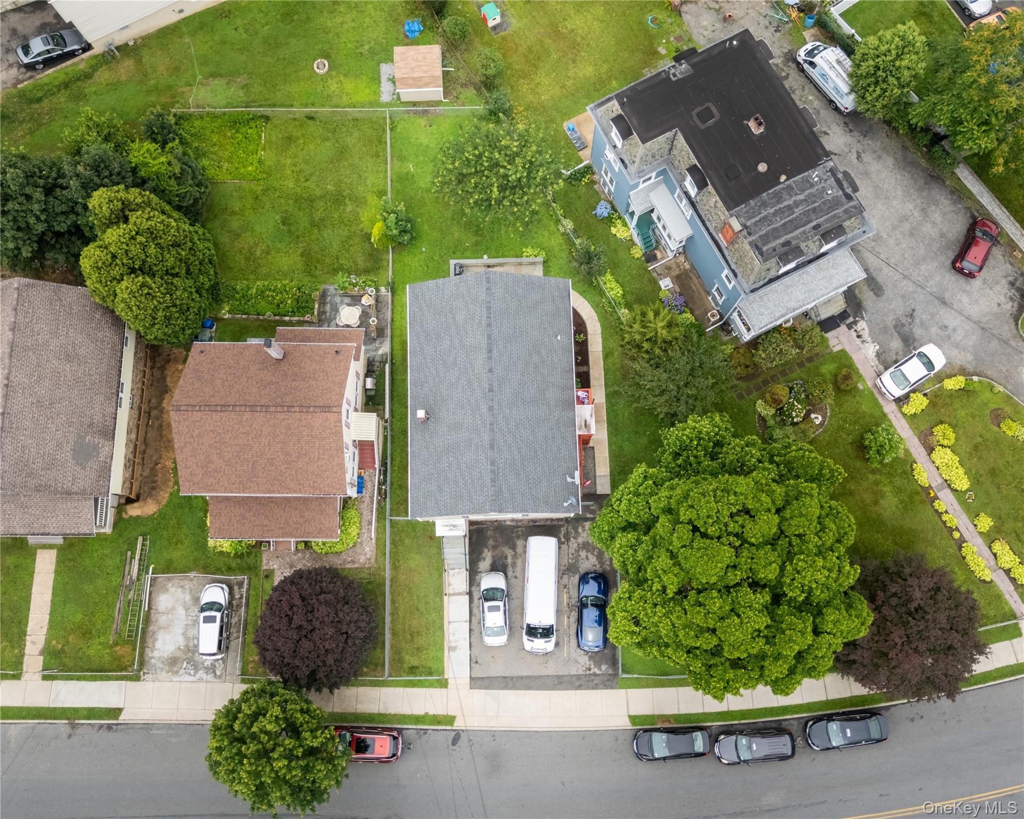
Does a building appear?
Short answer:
Yes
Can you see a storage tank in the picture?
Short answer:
No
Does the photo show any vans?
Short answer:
Yes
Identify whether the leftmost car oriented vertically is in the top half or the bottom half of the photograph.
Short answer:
bottom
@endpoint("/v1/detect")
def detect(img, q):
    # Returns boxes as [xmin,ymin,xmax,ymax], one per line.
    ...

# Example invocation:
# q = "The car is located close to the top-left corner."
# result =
[16,27,88,72]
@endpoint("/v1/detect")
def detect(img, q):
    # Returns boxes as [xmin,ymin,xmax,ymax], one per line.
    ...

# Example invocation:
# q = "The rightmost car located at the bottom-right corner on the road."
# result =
[804,711,890,752]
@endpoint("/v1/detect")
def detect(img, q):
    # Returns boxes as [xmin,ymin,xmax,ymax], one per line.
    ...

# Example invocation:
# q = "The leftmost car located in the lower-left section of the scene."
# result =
[196,583,235,660]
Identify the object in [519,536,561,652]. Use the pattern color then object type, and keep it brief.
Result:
white van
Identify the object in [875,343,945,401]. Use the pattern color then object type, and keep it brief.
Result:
white car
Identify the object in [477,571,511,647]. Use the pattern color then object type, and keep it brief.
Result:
white car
